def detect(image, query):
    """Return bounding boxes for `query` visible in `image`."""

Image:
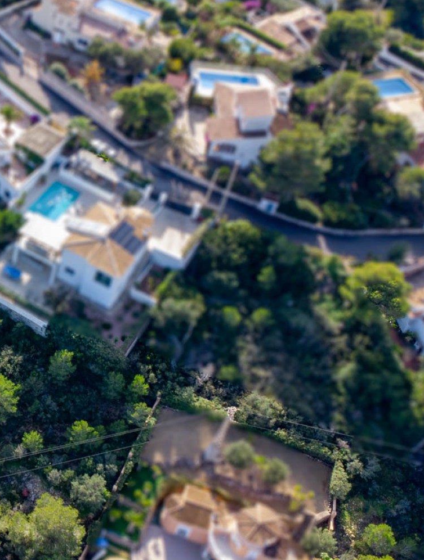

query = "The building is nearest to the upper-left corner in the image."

[32,0,96,59]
